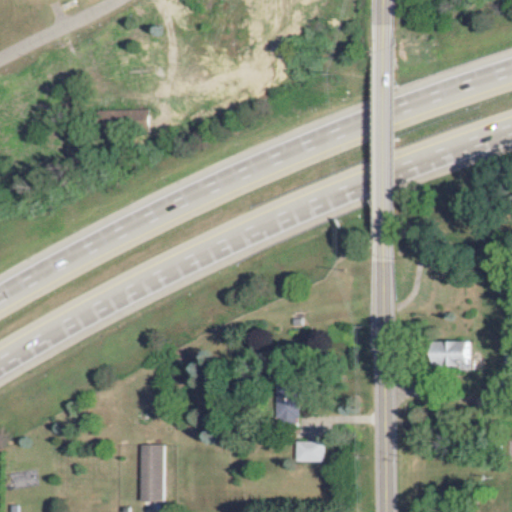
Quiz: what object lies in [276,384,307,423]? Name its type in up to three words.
house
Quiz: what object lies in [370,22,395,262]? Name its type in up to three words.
overpass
